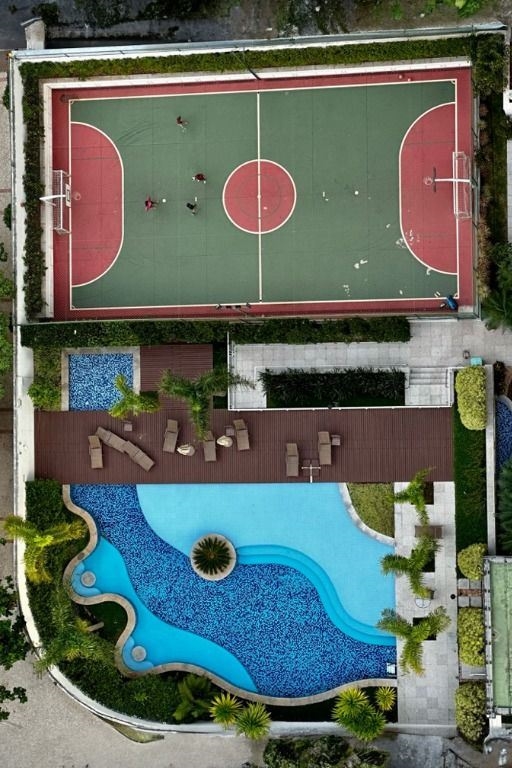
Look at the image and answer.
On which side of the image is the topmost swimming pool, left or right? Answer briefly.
left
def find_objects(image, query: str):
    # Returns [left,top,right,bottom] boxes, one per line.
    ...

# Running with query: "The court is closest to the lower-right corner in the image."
[487,555,512,716]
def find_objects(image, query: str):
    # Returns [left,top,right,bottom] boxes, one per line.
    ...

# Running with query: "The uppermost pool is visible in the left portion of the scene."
[62,348,141,410]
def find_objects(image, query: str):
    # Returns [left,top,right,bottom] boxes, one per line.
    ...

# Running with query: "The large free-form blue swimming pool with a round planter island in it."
[63,482,403,706]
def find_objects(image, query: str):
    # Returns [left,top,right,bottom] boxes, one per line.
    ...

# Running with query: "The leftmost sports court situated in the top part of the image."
[52,68,475,322]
